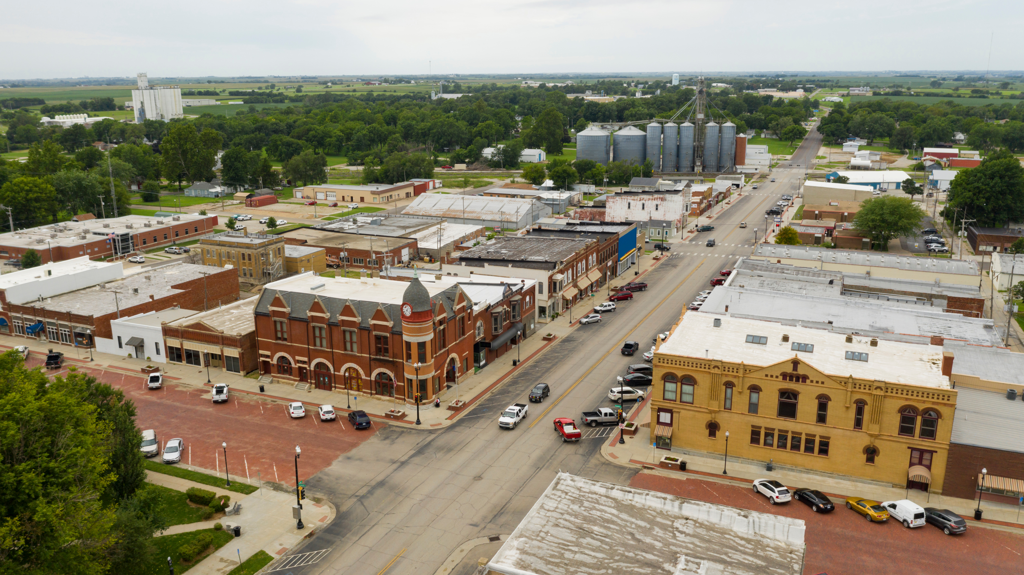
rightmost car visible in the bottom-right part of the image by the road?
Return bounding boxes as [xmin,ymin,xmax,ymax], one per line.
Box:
[923,508,971,538]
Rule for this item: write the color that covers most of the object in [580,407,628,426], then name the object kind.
gray vehicle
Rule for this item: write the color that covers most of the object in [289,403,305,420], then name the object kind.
white car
